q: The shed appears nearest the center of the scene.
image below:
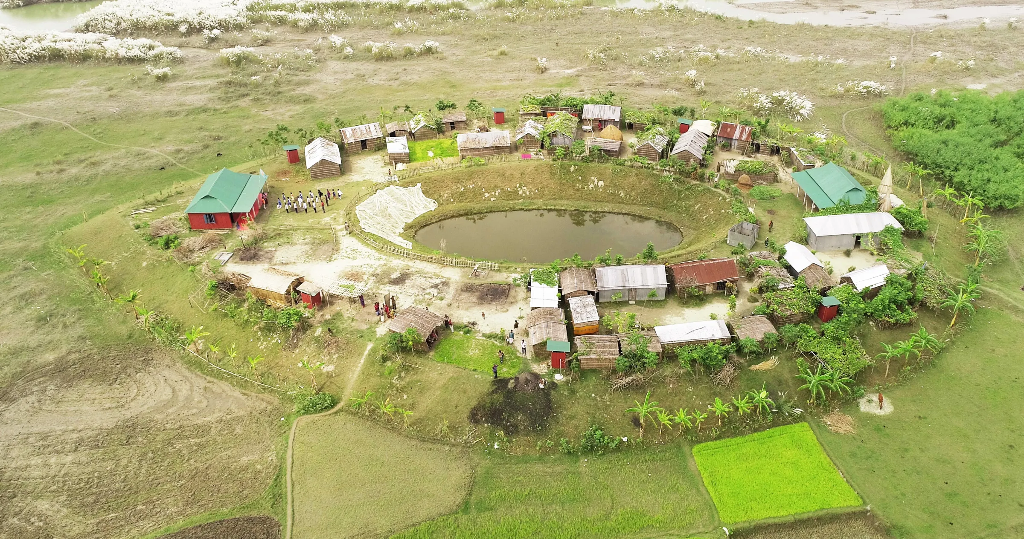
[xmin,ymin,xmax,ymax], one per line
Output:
[523,276,564,314]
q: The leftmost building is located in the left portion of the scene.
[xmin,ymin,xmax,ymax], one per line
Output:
[183,165,267,229]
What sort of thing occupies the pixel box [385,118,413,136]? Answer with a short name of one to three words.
shed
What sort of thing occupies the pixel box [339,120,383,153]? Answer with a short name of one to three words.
shed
